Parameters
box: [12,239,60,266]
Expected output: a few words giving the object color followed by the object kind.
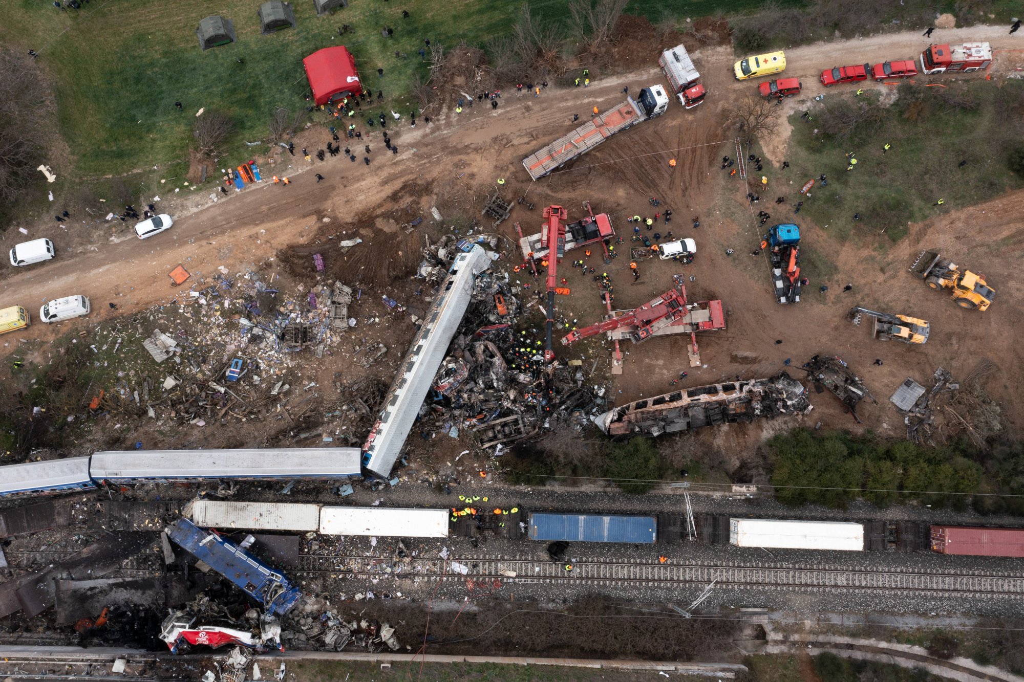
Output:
white vehicle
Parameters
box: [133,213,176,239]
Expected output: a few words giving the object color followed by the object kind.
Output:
white car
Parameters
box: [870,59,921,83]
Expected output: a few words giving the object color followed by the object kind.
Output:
red vehicle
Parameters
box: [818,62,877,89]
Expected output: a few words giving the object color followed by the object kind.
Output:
red vehicle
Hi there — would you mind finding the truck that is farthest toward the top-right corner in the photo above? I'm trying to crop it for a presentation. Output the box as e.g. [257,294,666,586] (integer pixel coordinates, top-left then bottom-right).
[917,42,998,82]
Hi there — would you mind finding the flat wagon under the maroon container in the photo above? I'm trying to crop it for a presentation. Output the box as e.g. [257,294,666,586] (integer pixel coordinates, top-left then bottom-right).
[891,524,1024,559]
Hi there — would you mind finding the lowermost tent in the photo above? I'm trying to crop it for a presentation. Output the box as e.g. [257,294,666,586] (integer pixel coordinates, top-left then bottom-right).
[294,37,386,114]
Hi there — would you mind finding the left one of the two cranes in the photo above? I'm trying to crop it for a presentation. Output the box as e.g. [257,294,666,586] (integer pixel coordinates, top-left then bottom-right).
[511,188,616,387]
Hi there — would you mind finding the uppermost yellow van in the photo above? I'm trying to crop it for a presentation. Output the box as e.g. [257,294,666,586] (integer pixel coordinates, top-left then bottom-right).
[730,49,789,84]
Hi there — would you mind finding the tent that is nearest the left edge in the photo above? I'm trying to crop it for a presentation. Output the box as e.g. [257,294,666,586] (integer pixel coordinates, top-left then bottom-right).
[197,8,238,52]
